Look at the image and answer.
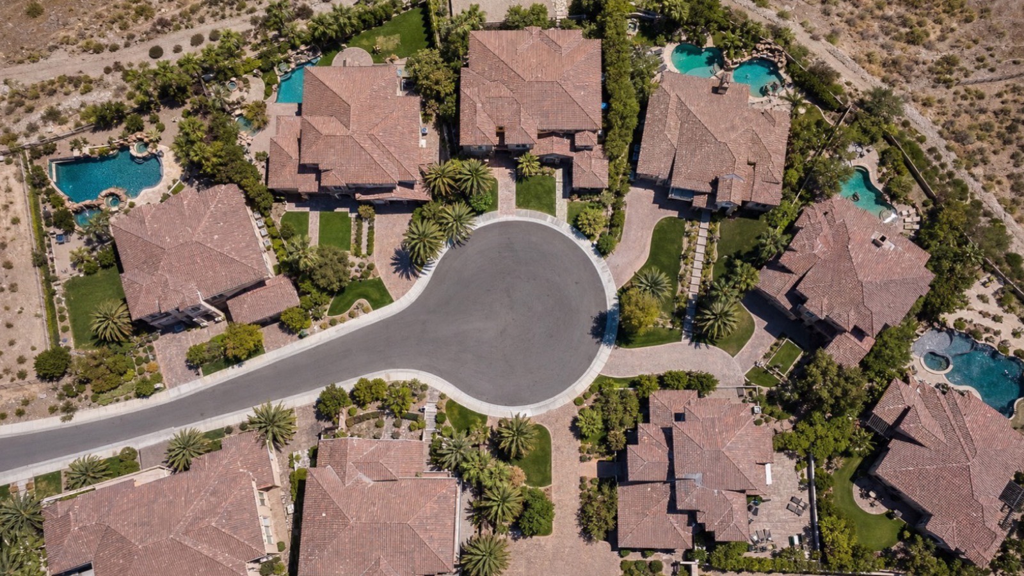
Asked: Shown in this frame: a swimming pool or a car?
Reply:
swimming pool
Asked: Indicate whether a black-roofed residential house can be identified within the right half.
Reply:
No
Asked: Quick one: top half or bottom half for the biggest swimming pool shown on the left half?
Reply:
top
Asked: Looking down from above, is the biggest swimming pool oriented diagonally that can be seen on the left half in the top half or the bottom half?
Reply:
top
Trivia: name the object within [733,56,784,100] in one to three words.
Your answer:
swimming pool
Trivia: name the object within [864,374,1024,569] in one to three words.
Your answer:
house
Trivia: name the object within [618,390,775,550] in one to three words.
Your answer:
house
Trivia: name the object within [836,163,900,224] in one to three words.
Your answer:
swimming pool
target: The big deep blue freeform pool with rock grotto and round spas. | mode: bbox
[46,144,165,205]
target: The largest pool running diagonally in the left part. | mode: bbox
[271,55,323,107]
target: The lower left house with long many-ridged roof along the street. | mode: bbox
[40,429,283,576]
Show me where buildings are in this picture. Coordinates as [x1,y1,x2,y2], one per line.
[109,183,301,327]
[864,374,1024,569]
[459,25,611,194]
[267,65,434,206]
[618,390,775,550]
[754,196,935,367]
[296,438,457,576]
[40,429,283,576]
[636,66,791,216]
